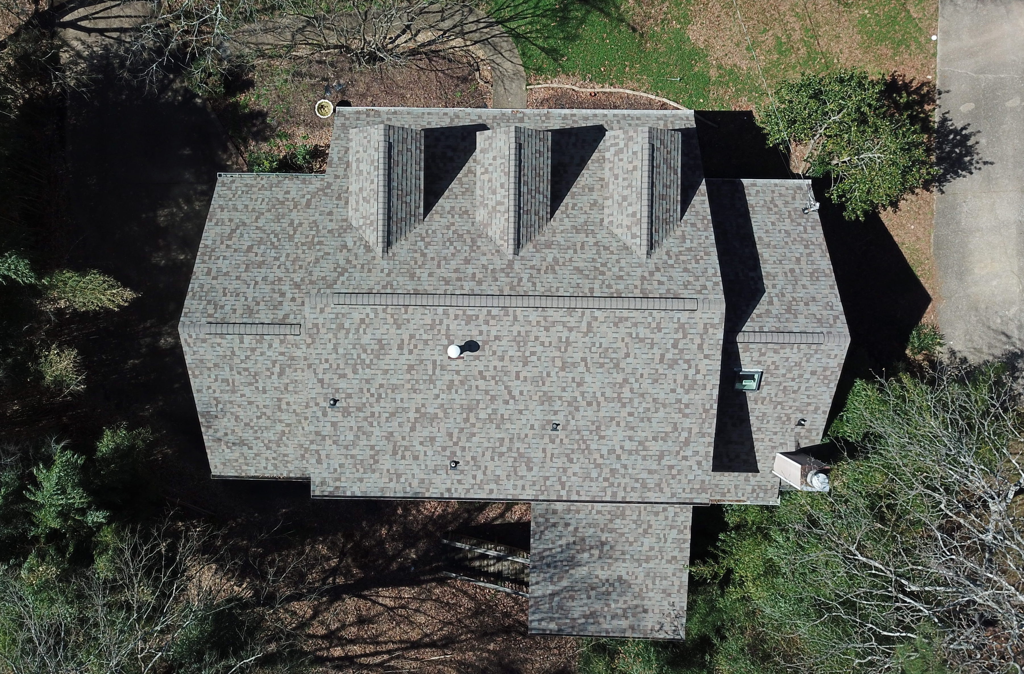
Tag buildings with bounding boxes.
[177,105,851,641]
